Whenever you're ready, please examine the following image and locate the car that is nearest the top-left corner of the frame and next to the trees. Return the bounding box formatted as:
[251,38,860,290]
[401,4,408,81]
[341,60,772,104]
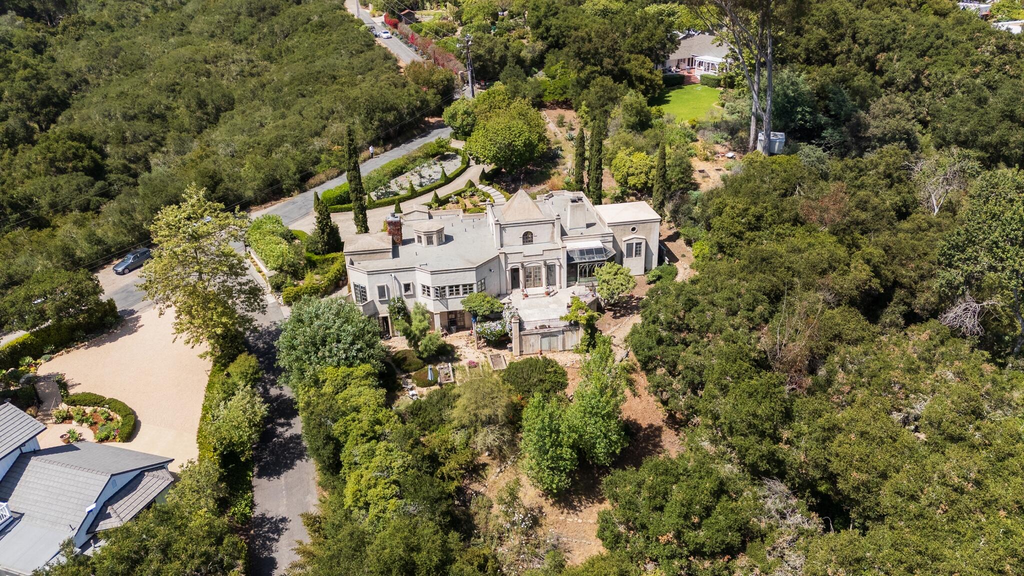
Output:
[105,246,158,276]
